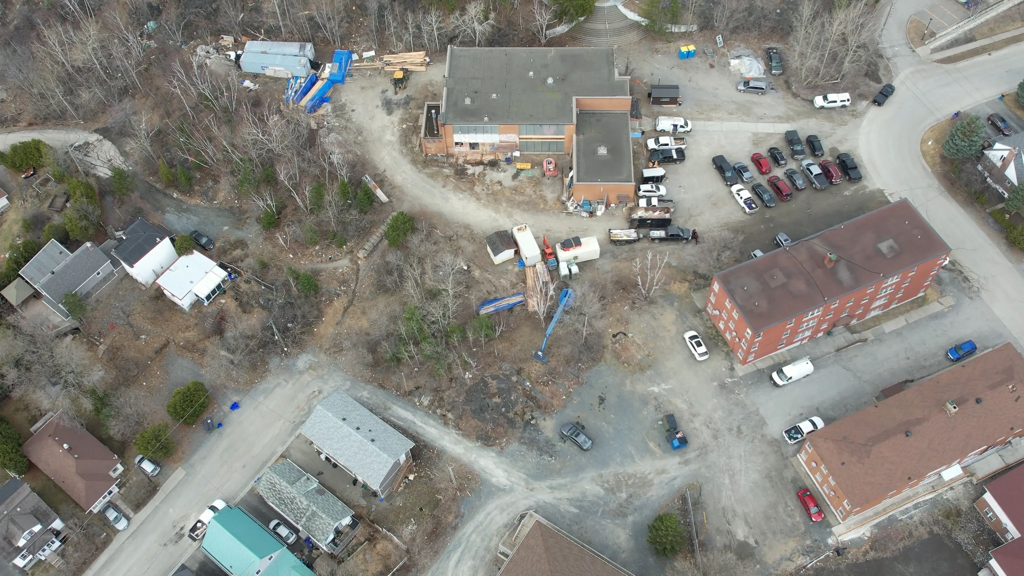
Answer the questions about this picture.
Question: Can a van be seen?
Yes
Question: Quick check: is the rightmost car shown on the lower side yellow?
No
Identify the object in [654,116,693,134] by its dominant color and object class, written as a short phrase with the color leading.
white vehicle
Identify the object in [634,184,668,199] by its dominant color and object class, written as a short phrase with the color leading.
white car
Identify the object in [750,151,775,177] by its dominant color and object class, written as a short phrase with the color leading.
red car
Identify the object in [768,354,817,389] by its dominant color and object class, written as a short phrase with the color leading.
white van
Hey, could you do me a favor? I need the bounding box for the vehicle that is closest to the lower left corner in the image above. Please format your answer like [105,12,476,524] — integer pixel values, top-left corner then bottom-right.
[98,500,133,536]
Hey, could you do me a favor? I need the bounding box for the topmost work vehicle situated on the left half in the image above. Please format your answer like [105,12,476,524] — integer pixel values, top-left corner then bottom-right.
[390,67,409,91]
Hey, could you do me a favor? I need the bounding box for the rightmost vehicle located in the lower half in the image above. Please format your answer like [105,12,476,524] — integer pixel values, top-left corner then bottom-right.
[941,338,982,364]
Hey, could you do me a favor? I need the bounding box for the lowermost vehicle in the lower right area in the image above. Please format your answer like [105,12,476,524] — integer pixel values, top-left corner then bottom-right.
[794,484,827,528]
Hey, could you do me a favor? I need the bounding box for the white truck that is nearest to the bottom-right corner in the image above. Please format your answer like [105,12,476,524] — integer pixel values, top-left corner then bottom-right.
[778,413,830,445]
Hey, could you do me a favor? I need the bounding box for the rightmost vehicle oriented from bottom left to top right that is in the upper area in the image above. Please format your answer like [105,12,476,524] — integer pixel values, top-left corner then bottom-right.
[870,81,897,110]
